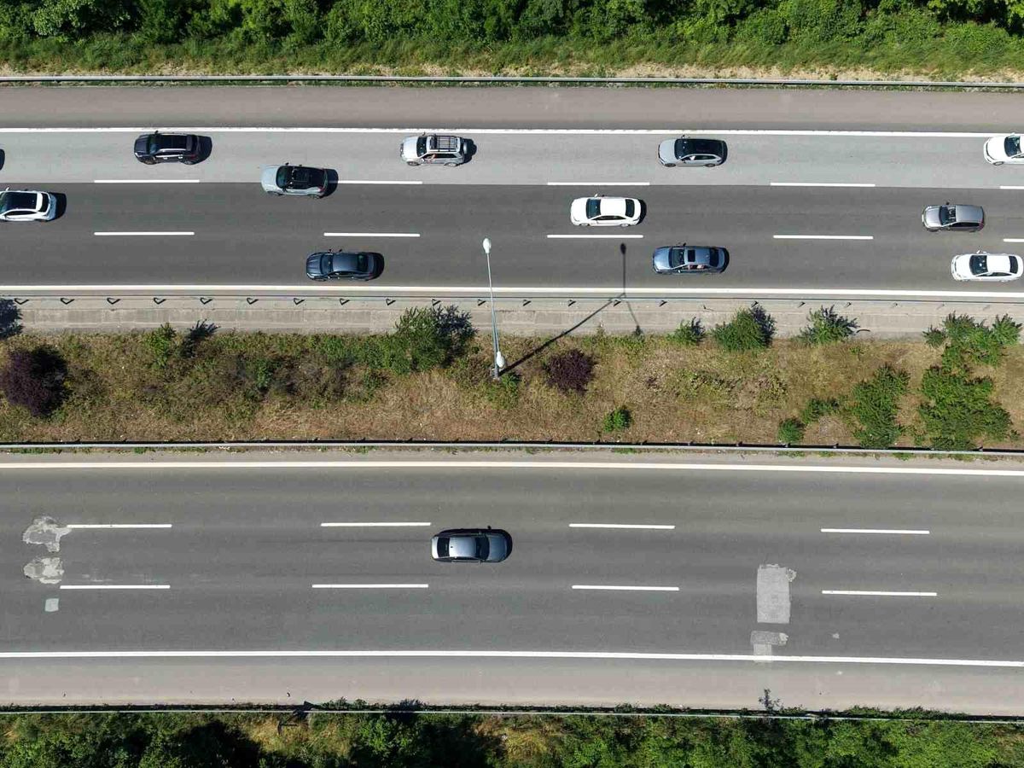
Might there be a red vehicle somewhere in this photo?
No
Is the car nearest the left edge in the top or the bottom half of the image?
top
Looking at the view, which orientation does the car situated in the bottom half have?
horizontally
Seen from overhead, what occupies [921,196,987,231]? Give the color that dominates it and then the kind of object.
gray car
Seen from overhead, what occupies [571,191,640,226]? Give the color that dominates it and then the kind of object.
white car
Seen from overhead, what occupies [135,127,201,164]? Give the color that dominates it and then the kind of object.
black car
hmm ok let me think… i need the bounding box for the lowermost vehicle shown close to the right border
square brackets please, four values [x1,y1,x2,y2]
[950,246,1023,282]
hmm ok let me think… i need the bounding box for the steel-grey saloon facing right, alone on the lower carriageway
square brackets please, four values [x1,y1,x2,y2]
[432,528,507,567]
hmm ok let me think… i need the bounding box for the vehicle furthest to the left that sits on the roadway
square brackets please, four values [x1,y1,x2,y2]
[0,184,60,221]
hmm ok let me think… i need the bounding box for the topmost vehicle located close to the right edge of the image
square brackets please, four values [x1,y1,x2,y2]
[982,129,1024,165]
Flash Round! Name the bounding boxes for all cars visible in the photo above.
[262,161,328,198]
[135,127,201,164]
[401,129,464,166]
[308,245,376,281]
[982,129,1024,165]
[432,528,507,567]
[950,246,1023,282]
[653,238,725,274]
[571,191,640,226]
[658,130,726,166]
[0,184,60,221]
[921,196,987,231]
